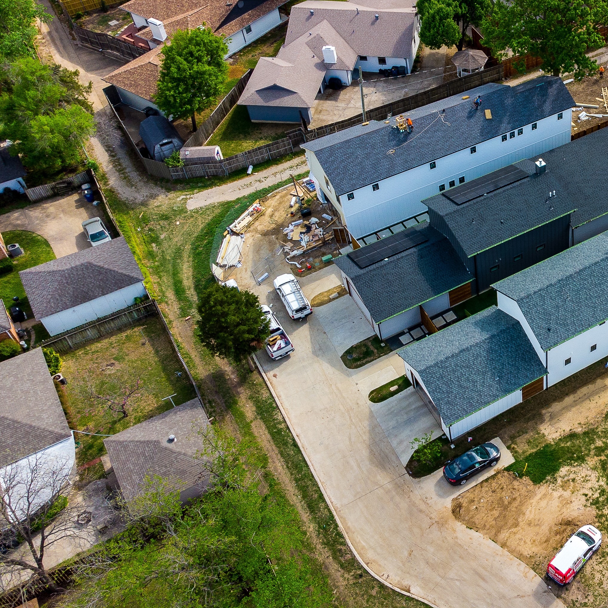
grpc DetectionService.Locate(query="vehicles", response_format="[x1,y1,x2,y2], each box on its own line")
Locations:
[257,303,294,360]
[546,525,602,587]
[440,440,503,486]
[268,269,313,321]
[82,217,112,247]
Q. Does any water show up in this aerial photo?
No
